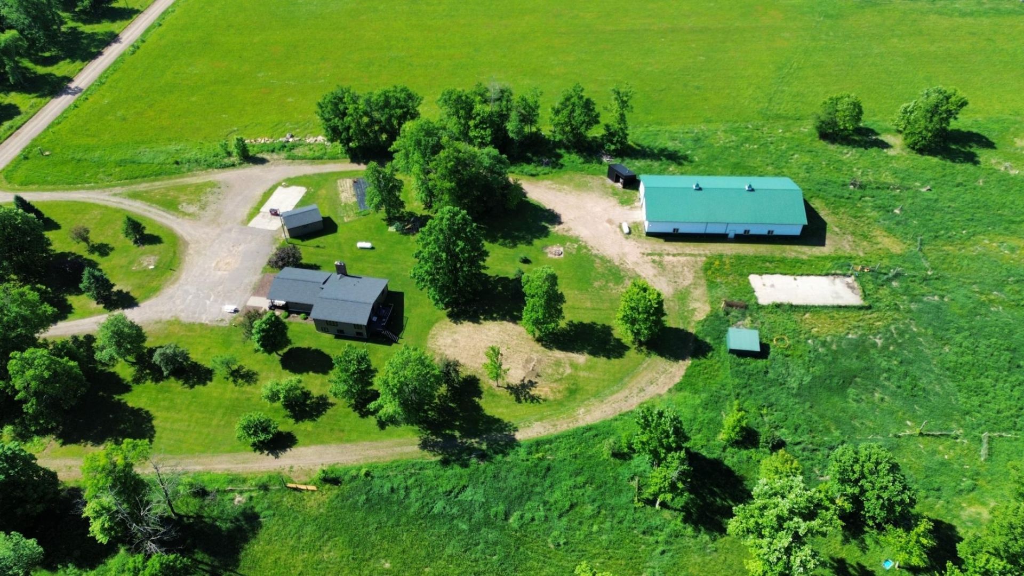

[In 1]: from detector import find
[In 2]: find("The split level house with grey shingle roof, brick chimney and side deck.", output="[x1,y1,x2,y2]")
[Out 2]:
[266,261,399,343]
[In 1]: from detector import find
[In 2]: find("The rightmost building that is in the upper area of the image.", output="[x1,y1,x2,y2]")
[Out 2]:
[636,175,808,237]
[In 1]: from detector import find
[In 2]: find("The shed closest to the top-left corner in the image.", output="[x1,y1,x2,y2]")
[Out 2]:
[281,204,323,238]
